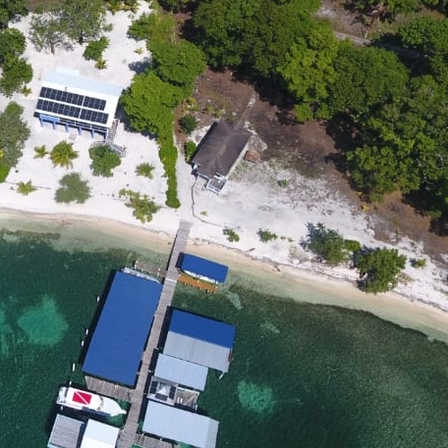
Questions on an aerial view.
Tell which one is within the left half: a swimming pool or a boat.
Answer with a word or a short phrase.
boat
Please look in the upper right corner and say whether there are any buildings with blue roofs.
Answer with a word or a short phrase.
No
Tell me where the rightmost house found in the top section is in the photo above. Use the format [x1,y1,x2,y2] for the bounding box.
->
[192,122,252,197]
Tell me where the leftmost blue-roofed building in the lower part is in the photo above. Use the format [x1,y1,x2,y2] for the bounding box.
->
[84,271,163,392]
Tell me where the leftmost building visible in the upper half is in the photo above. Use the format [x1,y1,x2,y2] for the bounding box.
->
[36,68,128,157]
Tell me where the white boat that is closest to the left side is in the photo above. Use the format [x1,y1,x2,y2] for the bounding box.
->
[56,386,126,428]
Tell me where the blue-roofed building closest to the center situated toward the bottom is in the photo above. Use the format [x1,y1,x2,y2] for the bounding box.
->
[179,255,229,291]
